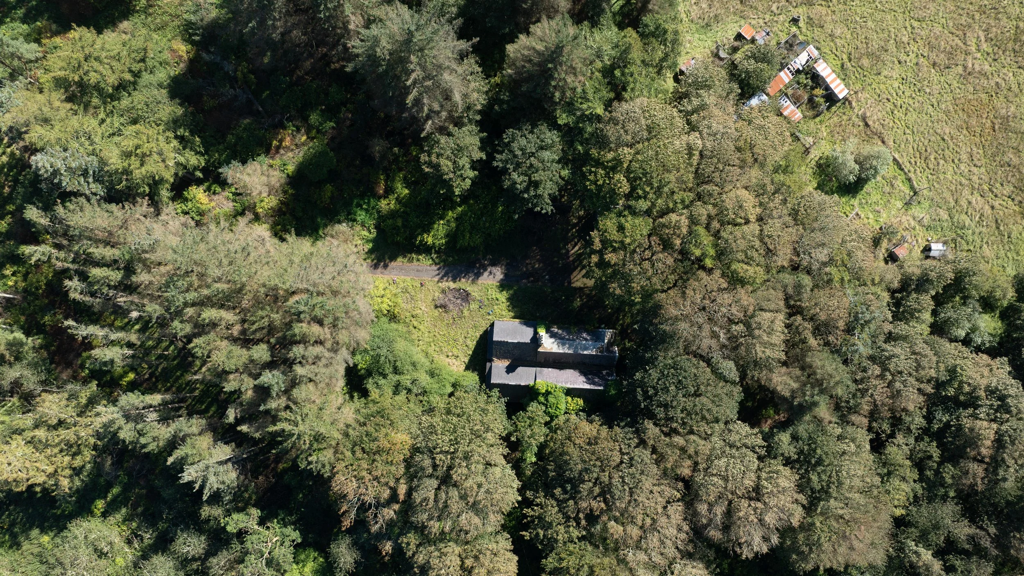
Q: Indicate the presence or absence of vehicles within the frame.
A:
No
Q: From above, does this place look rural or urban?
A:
rural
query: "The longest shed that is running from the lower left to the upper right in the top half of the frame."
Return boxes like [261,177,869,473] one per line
[765,45,818,100]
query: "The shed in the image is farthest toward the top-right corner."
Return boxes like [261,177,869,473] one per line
[811,59,849,101]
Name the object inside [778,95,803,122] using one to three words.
shed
